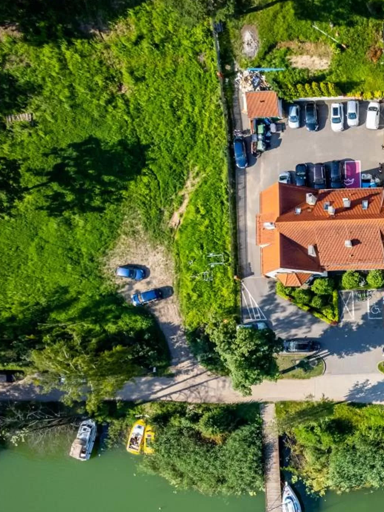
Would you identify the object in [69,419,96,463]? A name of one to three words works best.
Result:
boat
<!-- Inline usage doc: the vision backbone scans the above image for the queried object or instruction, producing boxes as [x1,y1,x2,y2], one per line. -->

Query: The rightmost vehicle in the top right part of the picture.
[364,98,381,134]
